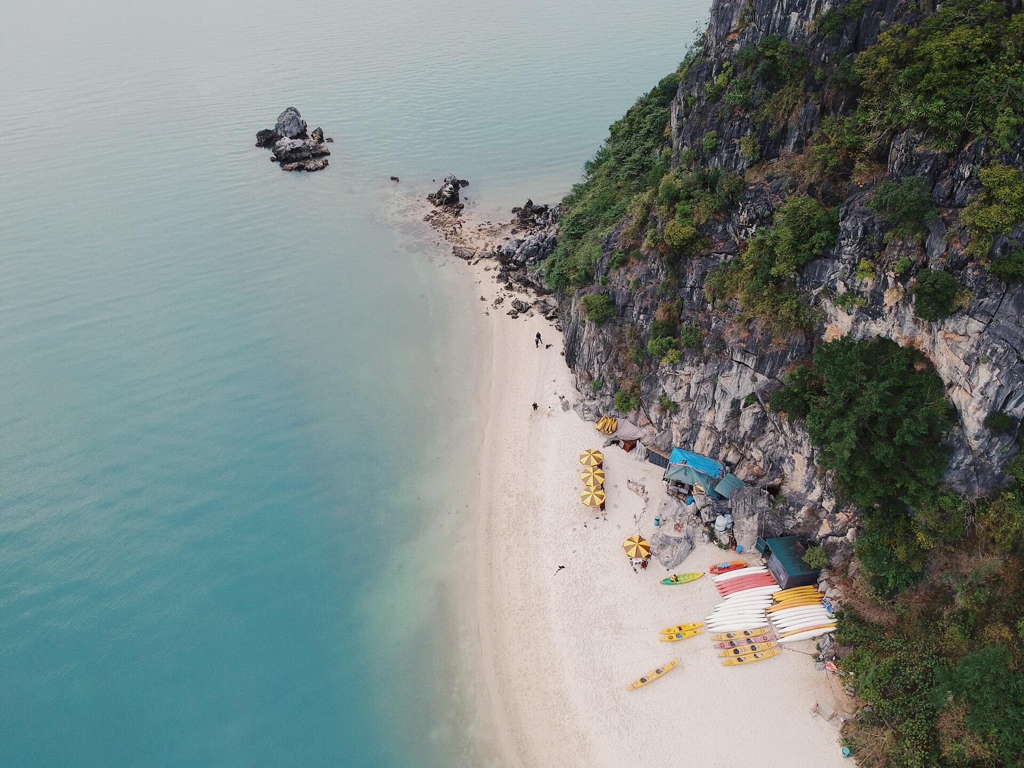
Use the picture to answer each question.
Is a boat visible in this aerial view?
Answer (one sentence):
Yes, the photo shows a boat.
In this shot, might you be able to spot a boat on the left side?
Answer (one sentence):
No, no boat can be made out on the left side.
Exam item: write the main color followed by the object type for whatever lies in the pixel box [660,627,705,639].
yellow boat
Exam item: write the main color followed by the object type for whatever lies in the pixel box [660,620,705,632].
yellow boat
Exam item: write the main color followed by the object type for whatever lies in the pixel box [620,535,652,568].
yellow umbrella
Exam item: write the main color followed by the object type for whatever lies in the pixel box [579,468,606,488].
yellow umbrella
